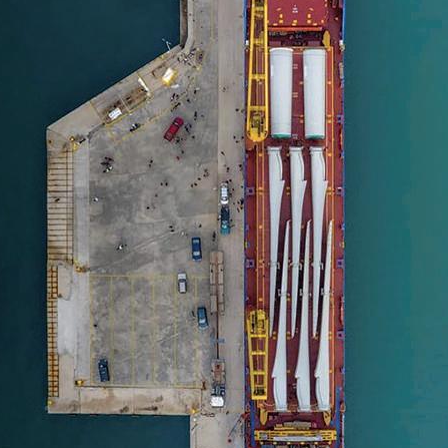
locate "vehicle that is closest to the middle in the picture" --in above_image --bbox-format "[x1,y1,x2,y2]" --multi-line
[219,206,231,234]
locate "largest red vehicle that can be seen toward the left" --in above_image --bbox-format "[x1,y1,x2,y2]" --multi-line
[163,116,183,142]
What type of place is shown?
port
